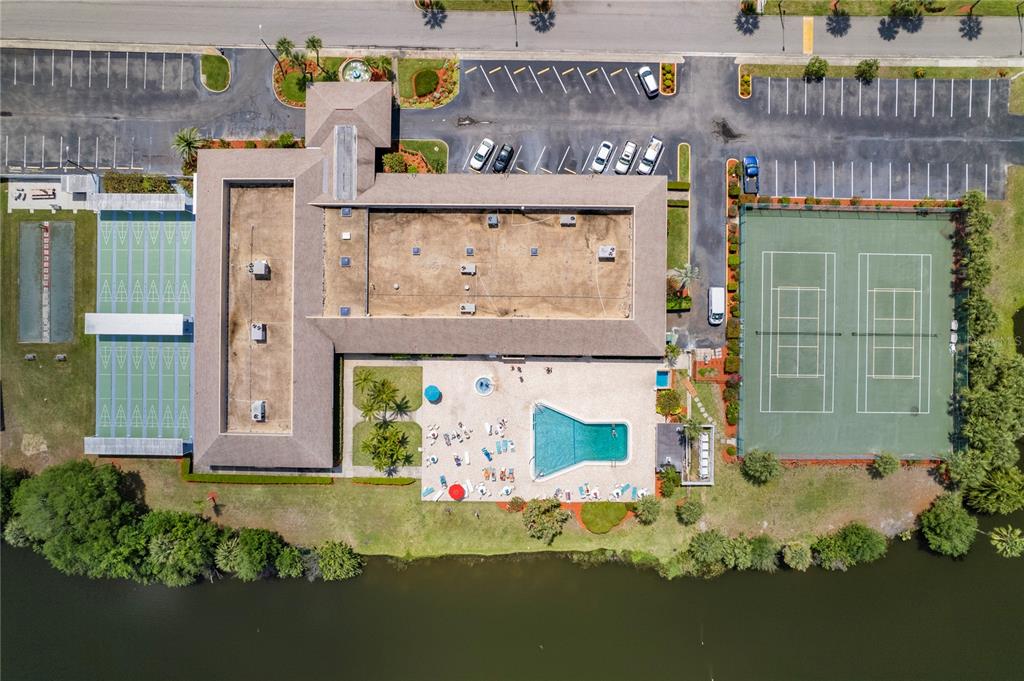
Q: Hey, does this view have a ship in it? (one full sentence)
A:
No, the frame has no ship in it.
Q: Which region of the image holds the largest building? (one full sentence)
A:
The largest building sits in the center section of the image.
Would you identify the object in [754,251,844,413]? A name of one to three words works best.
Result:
tennis court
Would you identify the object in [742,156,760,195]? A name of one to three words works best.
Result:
vehicle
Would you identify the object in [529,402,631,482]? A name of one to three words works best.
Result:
swimming pool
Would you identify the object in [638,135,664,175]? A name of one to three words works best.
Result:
truck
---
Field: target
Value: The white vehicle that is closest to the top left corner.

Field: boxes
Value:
[471,137,494,171]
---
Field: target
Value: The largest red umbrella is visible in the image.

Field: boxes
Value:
[449,483,464,499]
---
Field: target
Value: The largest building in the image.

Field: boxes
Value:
[193,82,667,468]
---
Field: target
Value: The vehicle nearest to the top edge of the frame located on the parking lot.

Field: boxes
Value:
[638,66,660,97]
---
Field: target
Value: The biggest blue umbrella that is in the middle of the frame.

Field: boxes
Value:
[425,385,440,401]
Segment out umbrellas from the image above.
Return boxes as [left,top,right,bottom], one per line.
[449,483,464,499]
[425,385,440,401]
